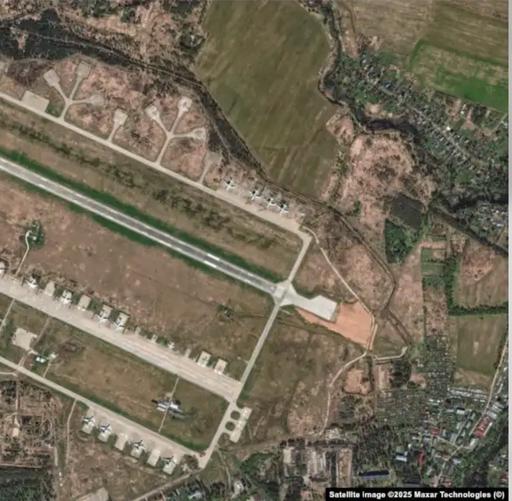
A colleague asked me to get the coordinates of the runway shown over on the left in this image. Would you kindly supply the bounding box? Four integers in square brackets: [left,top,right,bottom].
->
[0,157,276,294]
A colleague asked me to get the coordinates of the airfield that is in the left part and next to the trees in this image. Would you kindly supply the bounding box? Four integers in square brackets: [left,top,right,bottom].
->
[0,62,336,501]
